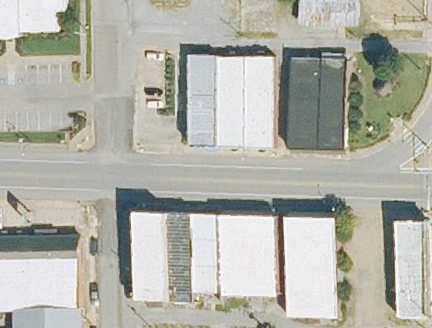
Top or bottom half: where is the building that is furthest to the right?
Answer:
bottom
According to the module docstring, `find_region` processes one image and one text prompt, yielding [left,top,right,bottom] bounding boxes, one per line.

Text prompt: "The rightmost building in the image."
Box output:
[394,221,431,319]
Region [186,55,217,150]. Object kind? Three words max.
building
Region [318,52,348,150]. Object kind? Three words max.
building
